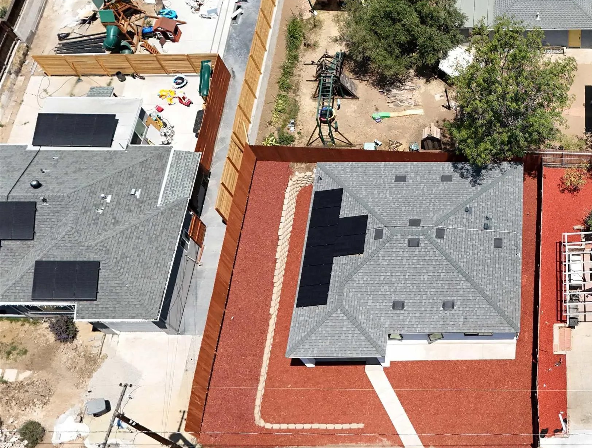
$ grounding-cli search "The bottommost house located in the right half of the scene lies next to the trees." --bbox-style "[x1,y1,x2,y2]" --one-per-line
[283,161,525,368]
